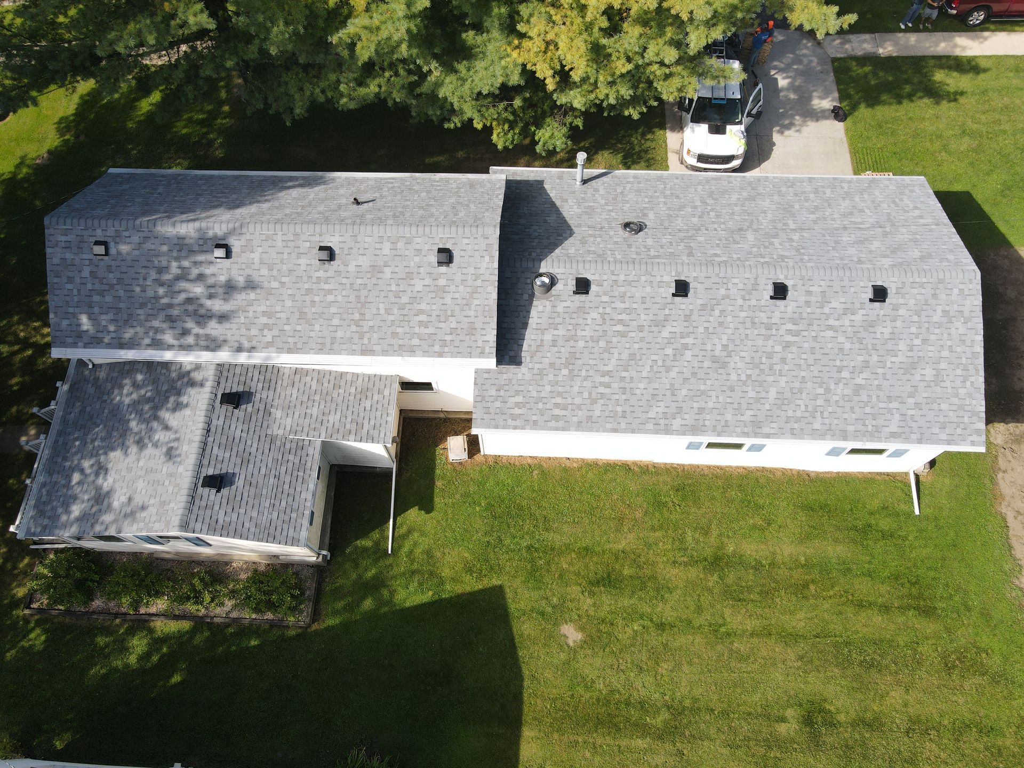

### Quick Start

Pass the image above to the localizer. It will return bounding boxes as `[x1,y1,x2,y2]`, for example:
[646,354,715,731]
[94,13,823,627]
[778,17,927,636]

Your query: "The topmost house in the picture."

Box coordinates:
[8,153,985,573]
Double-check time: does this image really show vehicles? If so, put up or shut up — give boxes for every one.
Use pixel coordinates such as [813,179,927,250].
[940,0,1024,24]
[667,14,764,169]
